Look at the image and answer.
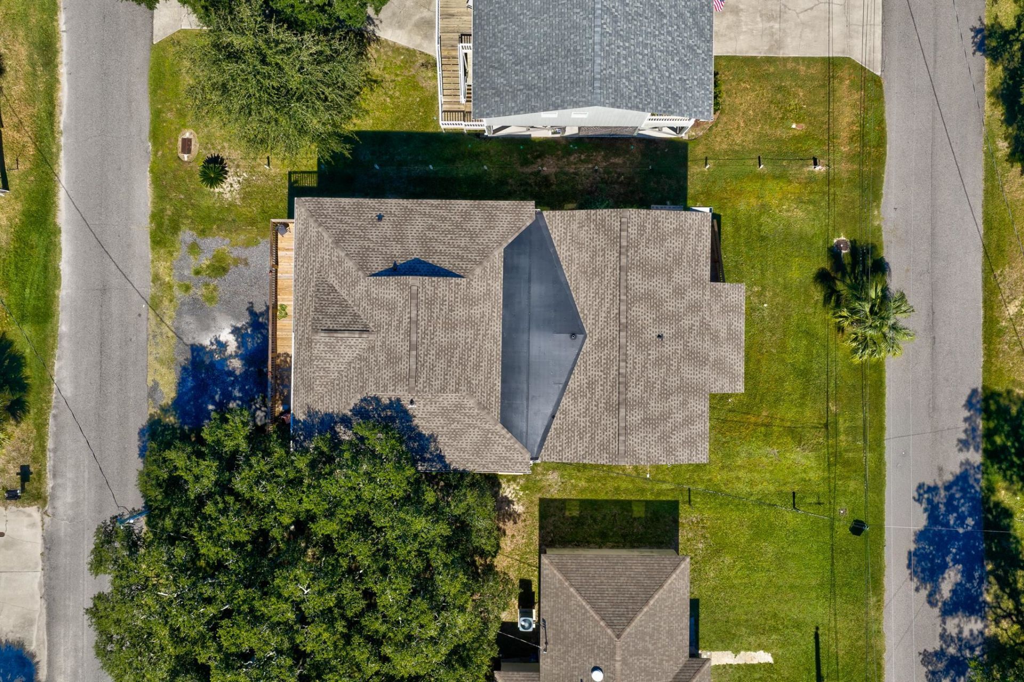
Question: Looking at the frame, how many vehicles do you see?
zero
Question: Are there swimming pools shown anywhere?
No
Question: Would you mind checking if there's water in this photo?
No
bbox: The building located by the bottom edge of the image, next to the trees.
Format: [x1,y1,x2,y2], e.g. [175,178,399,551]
[493,544,712,682]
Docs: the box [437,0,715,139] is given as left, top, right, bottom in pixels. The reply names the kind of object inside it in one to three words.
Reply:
house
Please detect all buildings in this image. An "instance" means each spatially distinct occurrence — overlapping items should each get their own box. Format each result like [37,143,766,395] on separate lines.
[267,197,745,476]
[493,544,712,682]
[437,0,715,139]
